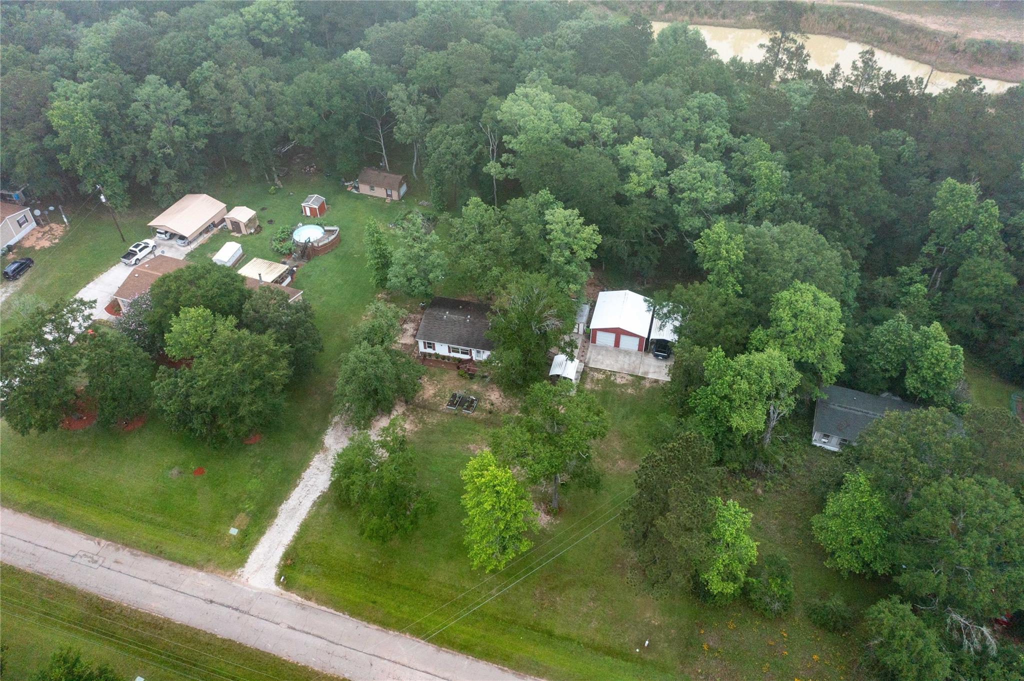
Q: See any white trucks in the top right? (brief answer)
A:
No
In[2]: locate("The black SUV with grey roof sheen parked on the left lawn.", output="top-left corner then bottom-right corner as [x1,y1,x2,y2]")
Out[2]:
[0,258,32,279]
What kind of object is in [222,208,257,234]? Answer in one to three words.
shed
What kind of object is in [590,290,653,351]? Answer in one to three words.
building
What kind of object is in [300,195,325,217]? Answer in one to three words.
shed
